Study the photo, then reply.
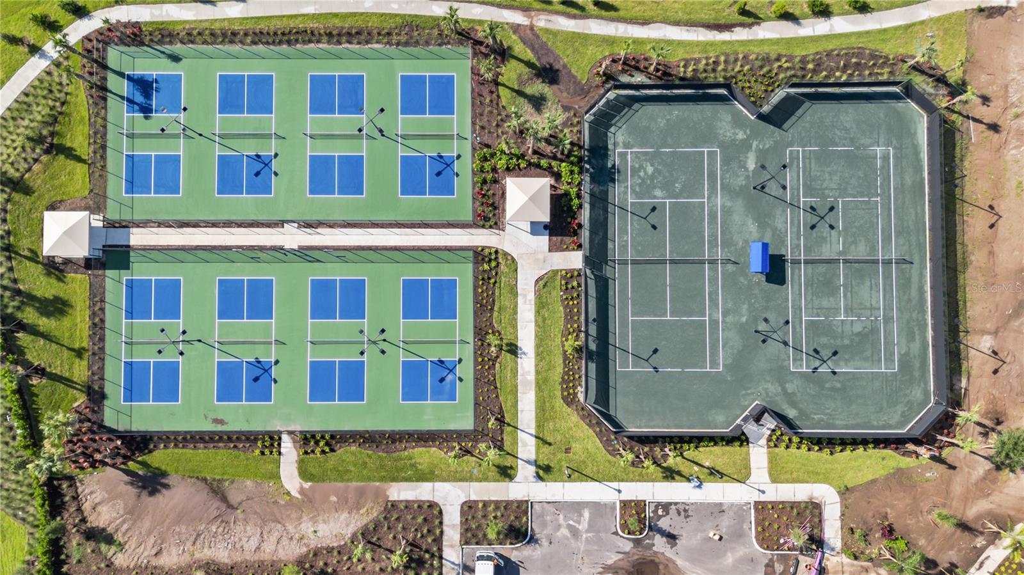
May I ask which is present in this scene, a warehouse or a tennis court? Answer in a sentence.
Visible in the photo is a tennis court.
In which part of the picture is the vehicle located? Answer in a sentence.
The vehicle appears toward the bottom of the photo.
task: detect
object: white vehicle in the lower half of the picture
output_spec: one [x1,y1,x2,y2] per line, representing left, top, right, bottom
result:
[475,549,504,575]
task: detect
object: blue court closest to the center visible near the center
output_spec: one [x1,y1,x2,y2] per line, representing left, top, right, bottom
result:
[400,277,458,403]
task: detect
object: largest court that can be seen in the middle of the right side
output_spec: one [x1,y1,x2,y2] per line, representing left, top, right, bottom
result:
[583,86,935,432]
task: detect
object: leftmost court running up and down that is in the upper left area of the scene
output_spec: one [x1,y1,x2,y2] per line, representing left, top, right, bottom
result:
[123,73,183,196]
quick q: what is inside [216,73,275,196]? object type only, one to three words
sports court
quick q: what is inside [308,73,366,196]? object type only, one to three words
sports court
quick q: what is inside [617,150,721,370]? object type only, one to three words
tennis court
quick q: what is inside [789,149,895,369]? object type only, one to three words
tennis court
